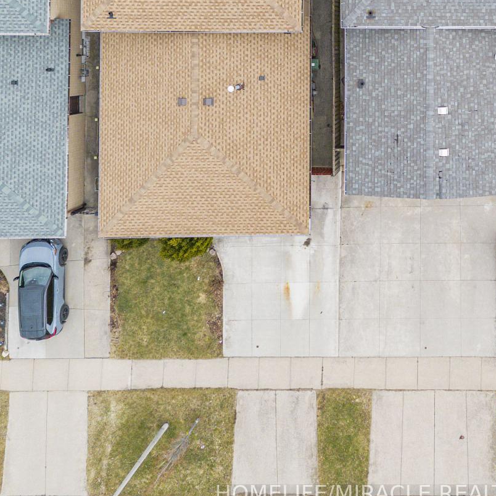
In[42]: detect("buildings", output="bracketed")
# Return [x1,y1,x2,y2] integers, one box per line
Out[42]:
[79,0,314,240]
[338,0,496,199]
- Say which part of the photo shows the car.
left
